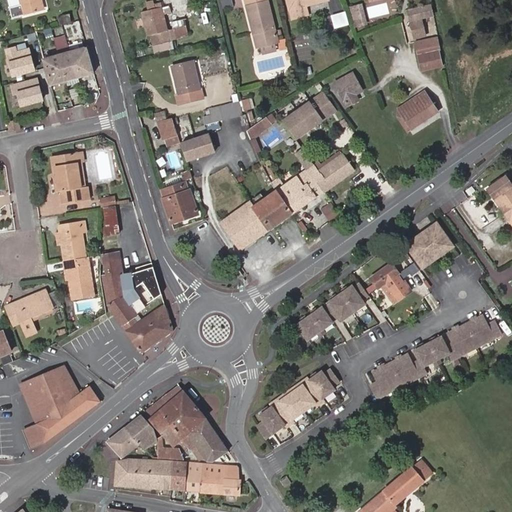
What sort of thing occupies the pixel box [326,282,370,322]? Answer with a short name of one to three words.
house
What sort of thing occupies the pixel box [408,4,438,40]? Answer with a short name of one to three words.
house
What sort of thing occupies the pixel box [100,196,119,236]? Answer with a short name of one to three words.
barn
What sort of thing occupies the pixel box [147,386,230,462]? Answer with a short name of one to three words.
building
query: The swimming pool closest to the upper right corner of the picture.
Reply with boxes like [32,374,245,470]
[256,55,285,73]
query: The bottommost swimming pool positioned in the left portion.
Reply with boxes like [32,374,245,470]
[74,298,102,314]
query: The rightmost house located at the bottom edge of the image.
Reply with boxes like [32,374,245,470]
[350,458,433,512]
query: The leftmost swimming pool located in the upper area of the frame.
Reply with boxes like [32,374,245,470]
[95,152,112,181]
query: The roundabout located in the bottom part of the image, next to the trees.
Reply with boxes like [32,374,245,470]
[178,291,254,368]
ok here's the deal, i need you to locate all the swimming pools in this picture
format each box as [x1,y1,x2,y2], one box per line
[95,152,112,181]
[260,130,283,148]
[166,150,182,170]
[256,55,285,73]
[74,298,102,314]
